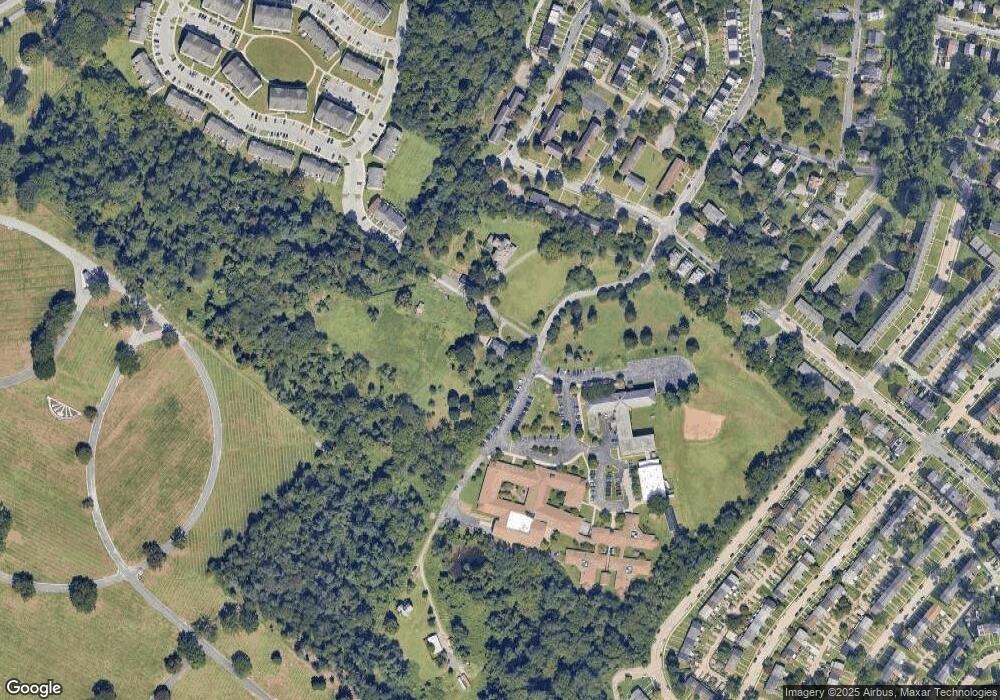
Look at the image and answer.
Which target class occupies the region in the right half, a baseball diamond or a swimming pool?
baseball diamond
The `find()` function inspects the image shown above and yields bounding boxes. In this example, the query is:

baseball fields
[684,405,726,441]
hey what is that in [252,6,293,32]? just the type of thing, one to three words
building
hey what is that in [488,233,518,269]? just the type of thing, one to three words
house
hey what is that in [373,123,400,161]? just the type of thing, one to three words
building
